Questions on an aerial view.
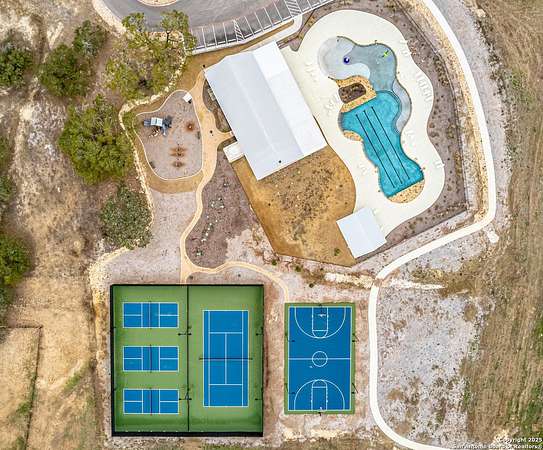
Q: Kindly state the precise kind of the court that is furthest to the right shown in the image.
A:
basketball court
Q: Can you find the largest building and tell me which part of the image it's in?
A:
top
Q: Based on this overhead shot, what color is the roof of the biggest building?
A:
white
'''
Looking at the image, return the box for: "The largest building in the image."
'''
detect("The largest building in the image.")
[204,38,328,180]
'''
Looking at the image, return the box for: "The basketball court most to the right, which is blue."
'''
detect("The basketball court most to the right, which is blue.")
[284,303,355,414]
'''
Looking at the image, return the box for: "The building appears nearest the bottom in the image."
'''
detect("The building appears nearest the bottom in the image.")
[336,205,388,258]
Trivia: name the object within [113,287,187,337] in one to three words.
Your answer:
sports court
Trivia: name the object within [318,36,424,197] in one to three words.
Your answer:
swimming pool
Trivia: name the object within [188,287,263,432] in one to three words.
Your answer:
tennis court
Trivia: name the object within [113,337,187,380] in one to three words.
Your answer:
sports court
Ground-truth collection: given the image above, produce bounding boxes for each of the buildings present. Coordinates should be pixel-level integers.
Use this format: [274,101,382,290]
[336,205,388,258]
[204,38,328,180]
